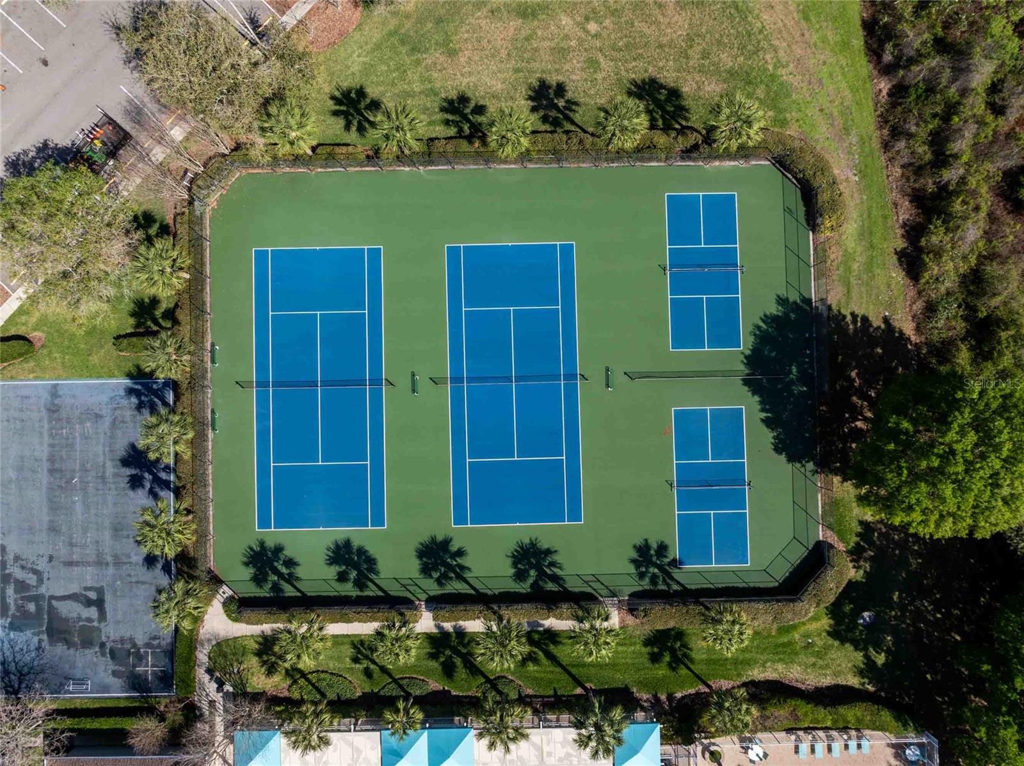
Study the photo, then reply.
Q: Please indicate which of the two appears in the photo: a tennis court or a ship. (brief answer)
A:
tennis court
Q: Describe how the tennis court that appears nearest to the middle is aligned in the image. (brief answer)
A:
from top to bottom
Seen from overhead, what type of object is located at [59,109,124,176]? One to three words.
trailer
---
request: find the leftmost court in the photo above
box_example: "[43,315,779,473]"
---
[0,380,175,697]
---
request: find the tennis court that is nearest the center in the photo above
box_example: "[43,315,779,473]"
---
[446,242,583,526]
